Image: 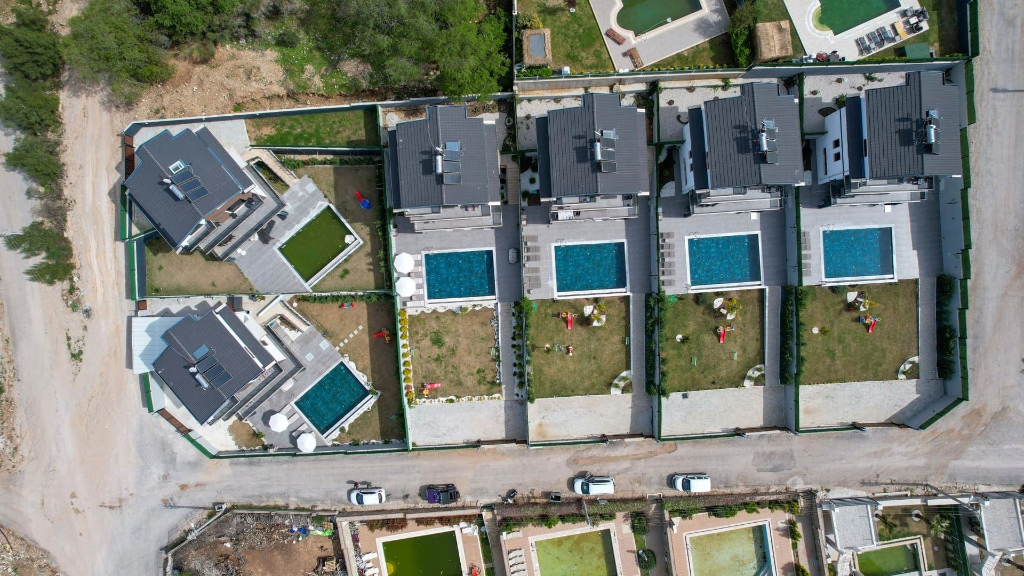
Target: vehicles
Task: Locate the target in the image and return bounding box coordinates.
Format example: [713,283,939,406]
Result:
[671,472,713,494]
[350,486,387,507]
[574,470,615,497]
[507,489,518,505]
[427,485,461,507]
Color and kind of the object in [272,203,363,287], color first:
green swimming pool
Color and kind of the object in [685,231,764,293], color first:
blue swimming pool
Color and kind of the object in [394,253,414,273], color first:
white umbrella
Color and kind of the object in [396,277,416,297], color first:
white umbrella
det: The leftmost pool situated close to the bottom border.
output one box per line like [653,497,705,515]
[376,525,471,576]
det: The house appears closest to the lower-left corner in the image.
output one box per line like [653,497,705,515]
[143,296,308,428]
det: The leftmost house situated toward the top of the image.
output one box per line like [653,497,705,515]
[119,122,290,261]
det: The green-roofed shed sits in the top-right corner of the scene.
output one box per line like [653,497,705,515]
[897,42,932,59]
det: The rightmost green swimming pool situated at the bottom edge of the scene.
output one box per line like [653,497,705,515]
[856,536,926,576]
